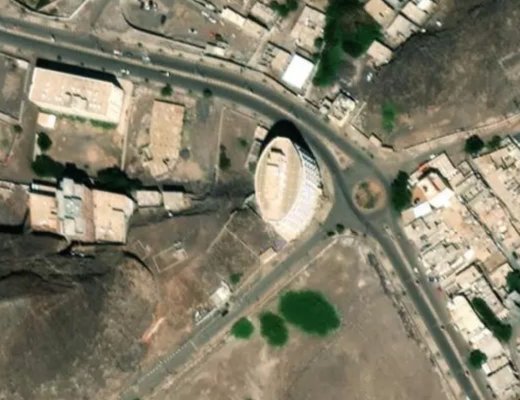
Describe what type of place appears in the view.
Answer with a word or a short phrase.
residential area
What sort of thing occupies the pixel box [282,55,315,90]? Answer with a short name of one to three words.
building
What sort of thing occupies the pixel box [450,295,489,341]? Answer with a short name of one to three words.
house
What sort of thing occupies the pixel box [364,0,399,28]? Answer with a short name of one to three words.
house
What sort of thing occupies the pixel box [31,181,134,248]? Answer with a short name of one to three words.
building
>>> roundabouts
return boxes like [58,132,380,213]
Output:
[354,179,387,212]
